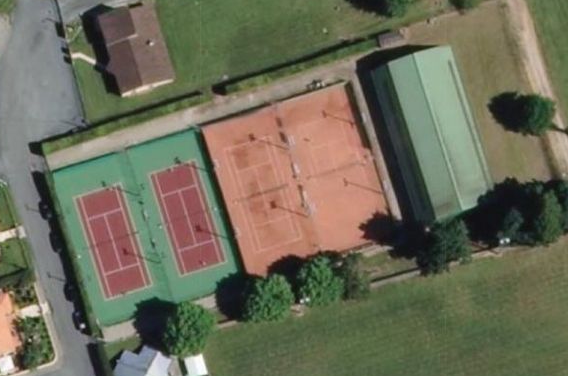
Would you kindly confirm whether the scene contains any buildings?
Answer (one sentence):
Yes, you can see a building in this photo.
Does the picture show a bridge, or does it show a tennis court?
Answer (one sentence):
The one in the frame is a tennis court.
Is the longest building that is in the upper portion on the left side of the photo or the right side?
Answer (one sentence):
The longest building that is in the upper portion is on the right side of the image.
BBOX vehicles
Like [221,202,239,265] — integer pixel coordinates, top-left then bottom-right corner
[65,284,77,304]
[74,311,86,331]
[51,233,63,253]
[40,202,51,221]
